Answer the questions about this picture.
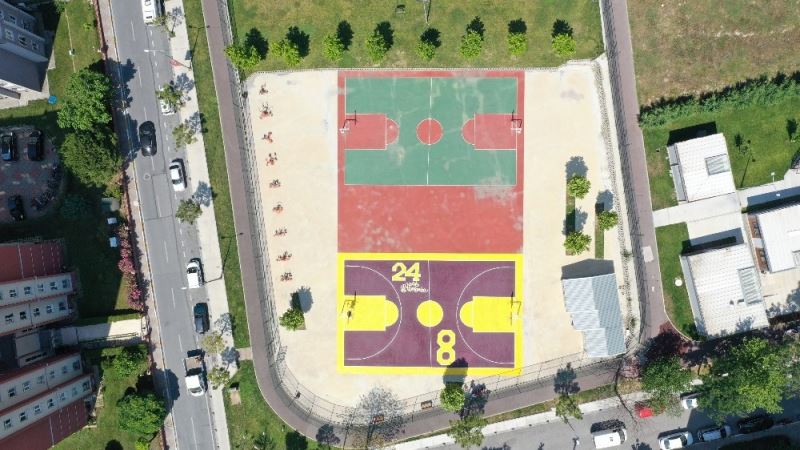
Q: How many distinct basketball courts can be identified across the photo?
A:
two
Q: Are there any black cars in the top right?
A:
No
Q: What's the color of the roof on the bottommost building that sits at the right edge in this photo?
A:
white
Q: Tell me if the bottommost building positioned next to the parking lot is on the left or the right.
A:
left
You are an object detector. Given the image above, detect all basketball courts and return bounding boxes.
[338,252,523,375]
[338,70,525,253]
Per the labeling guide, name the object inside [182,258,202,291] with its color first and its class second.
white car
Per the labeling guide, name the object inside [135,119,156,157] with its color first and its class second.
black car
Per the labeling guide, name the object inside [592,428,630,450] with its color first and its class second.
white vehicle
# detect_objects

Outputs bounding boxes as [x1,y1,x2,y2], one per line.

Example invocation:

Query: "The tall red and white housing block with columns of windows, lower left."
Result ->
[0,241,95,450]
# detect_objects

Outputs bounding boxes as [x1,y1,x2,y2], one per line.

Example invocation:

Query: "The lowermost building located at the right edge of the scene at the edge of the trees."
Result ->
[678,242,769,338]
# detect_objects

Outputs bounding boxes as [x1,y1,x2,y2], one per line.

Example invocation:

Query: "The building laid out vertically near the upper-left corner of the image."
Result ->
[0,0,49,105]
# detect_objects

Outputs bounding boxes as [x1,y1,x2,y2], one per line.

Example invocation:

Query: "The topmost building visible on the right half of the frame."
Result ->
[668,134,736,202]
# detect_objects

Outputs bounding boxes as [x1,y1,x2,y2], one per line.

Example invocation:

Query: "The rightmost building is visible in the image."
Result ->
[745,201,800,274]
